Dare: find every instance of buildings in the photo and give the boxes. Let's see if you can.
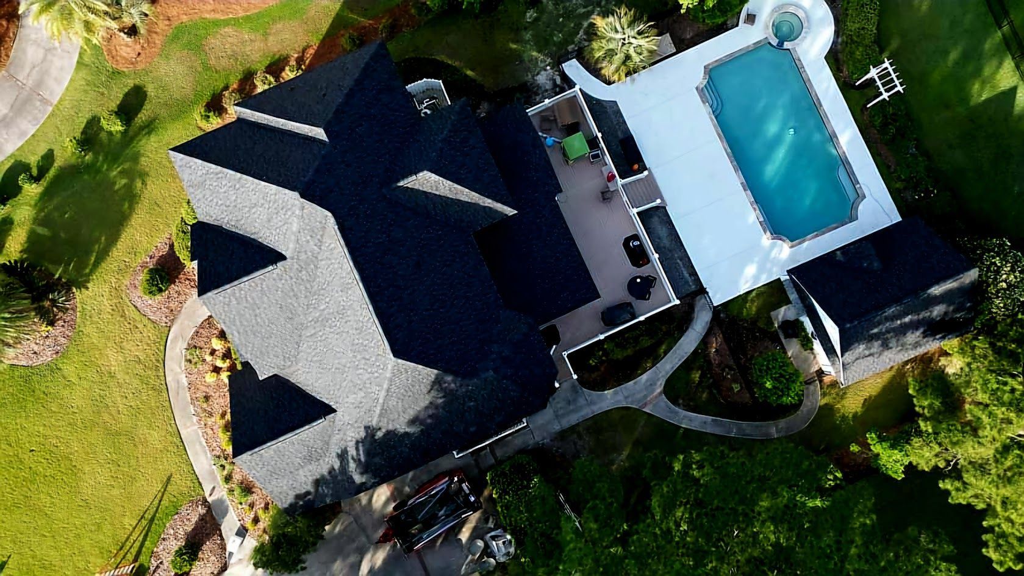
[167,41,602,513]
[781,209,975,388]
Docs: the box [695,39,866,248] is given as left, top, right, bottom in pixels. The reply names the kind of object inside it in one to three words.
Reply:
swimming pool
